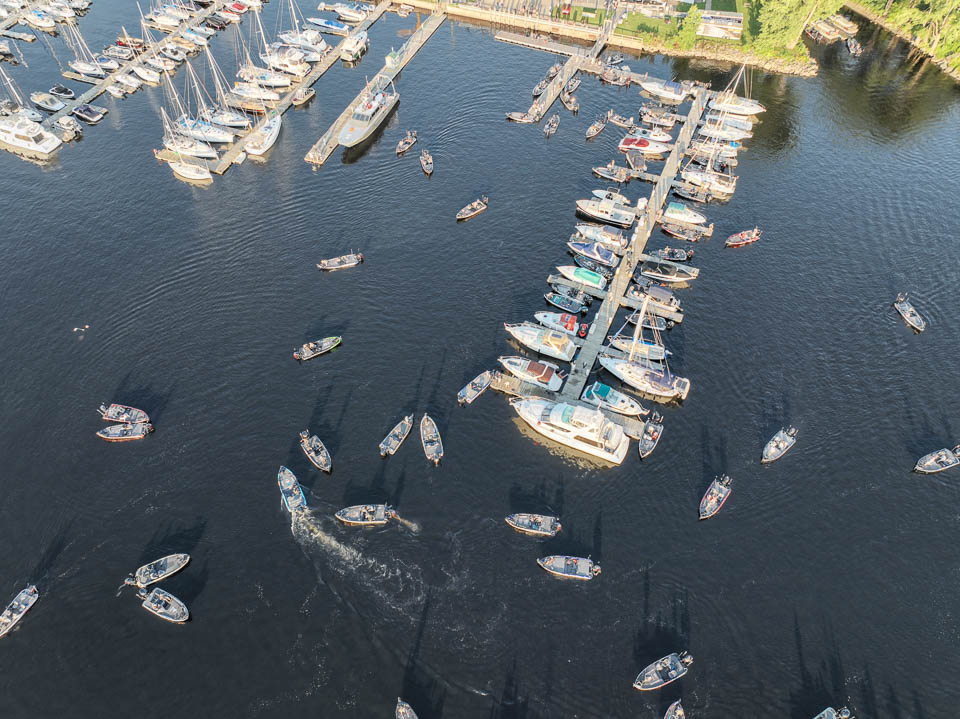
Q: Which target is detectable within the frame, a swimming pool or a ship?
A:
ship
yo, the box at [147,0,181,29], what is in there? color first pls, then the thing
white boat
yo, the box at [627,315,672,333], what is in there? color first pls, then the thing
gray boat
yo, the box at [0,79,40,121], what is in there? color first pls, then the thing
white boat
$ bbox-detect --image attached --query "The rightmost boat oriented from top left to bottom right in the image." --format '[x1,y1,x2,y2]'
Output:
[891,300,924,332]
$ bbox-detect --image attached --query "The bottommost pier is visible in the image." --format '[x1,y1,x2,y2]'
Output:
[490,374,646,440]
